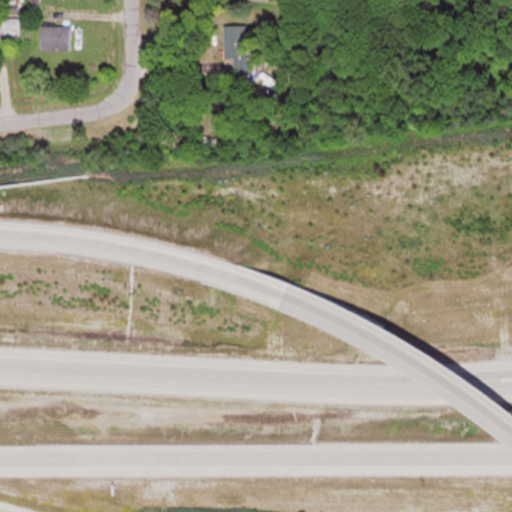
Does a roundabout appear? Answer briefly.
No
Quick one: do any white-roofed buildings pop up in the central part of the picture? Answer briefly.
No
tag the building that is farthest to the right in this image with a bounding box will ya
[224,26,248,71]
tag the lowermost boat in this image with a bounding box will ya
[252,72,278,86]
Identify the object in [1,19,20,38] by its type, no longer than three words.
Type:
building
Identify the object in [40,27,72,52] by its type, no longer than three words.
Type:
house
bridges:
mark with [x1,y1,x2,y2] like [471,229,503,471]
[232,266,512,456]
